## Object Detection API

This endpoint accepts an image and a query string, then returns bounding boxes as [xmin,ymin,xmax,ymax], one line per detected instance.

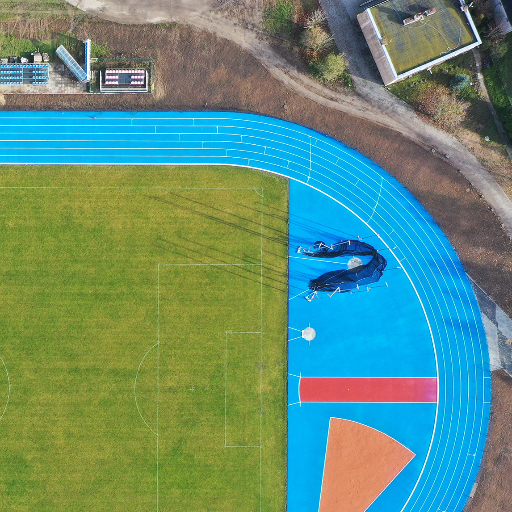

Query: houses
[490,0,512,34]
[352,0,483,86]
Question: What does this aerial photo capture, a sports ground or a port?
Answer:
sports ground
